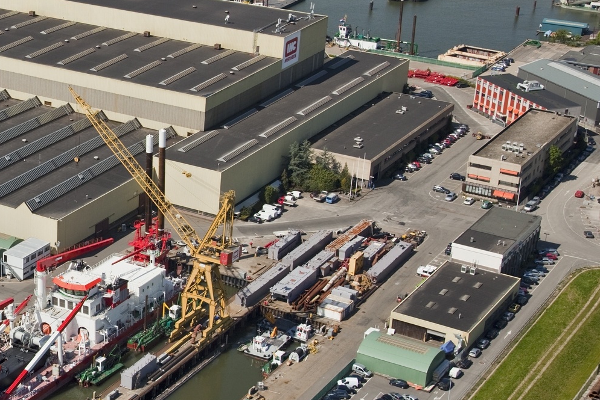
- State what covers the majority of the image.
buildings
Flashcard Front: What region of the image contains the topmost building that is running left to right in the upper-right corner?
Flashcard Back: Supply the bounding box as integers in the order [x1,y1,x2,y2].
[533,15,591,39]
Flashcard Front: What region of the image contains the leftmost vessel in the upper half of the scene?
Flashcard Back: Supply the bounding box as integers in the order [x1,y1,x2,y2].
[331,0,418,54]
